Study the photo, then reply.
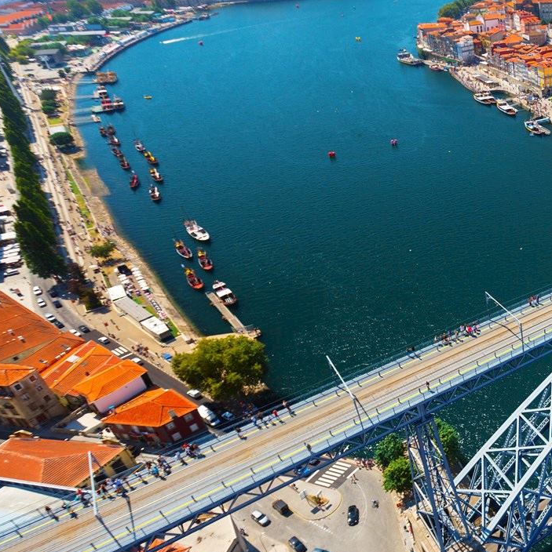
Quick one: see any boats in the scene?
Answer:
Yes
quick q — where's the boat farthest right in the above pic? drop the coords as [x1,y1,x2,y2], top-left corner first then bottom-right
[524,119,546,133]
